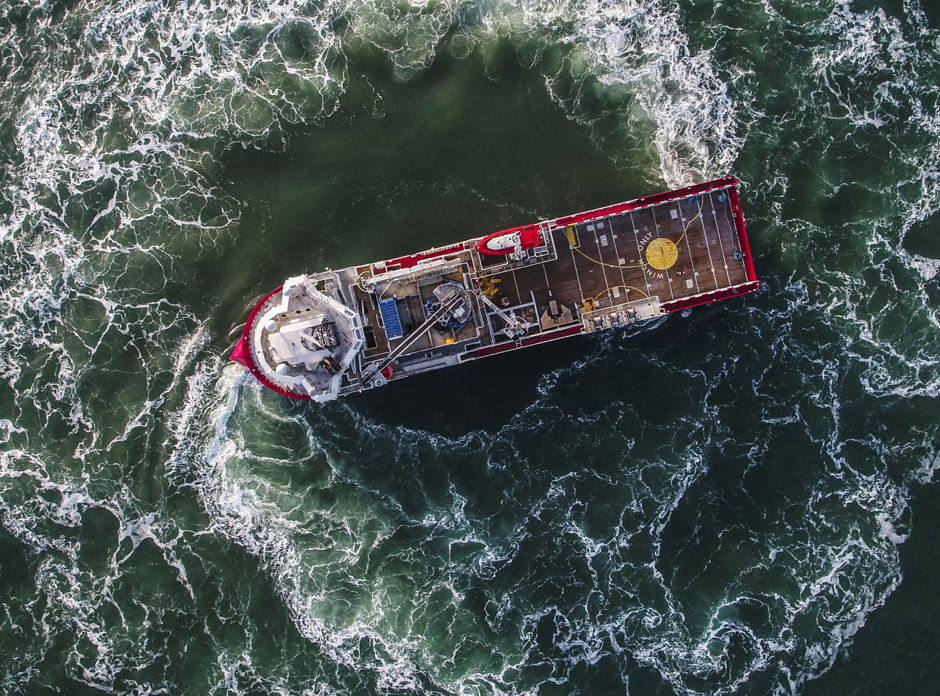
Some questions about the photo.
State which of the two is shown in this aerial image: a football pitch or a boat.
boat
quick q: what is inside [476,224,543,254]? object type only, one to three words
boat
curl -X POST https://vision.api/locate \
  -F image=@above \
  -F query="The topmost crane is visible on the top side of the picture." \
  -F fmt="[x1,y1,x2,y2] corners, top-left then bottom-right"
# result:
[356,259,445,292]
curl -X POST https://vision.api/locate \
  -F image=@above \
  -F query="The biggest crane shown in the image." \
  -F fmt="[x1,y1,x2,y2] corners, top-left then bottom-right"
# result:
[355,282,474,387]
